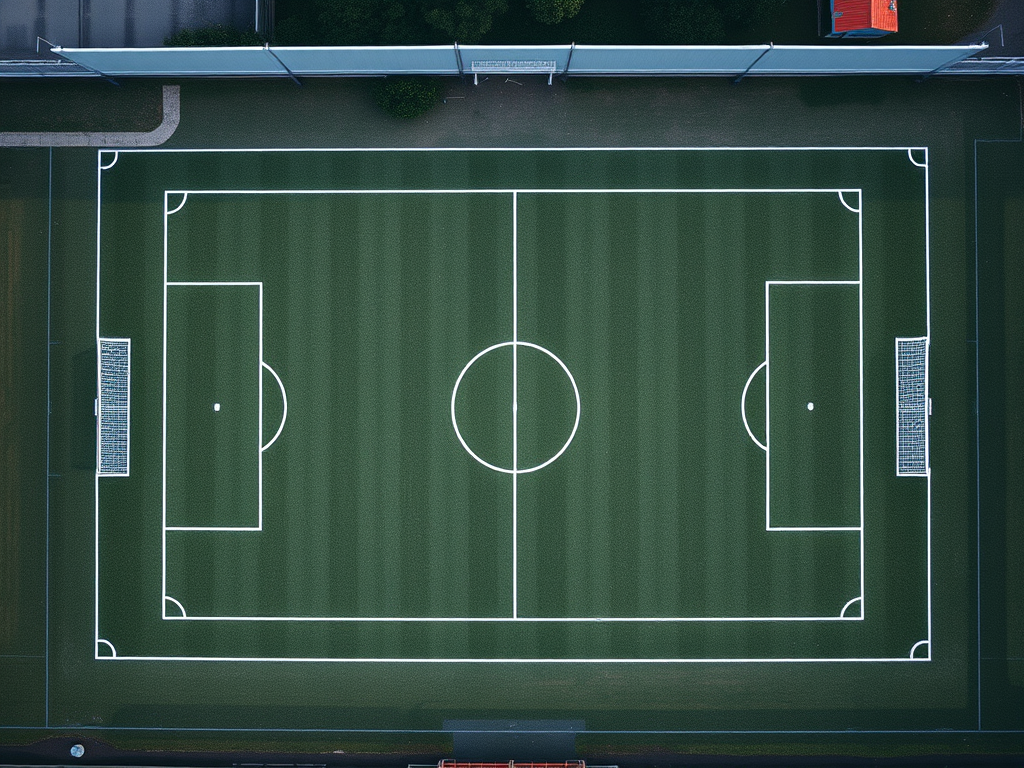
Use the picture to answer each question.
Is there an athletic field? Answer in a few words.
Yes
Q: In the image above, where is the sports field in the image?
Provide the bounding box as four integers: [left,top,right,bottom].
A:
[163,188,864,621]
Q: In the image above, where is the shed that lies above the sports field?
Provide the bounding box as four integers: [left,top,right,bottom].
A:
[825,0,897,40]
